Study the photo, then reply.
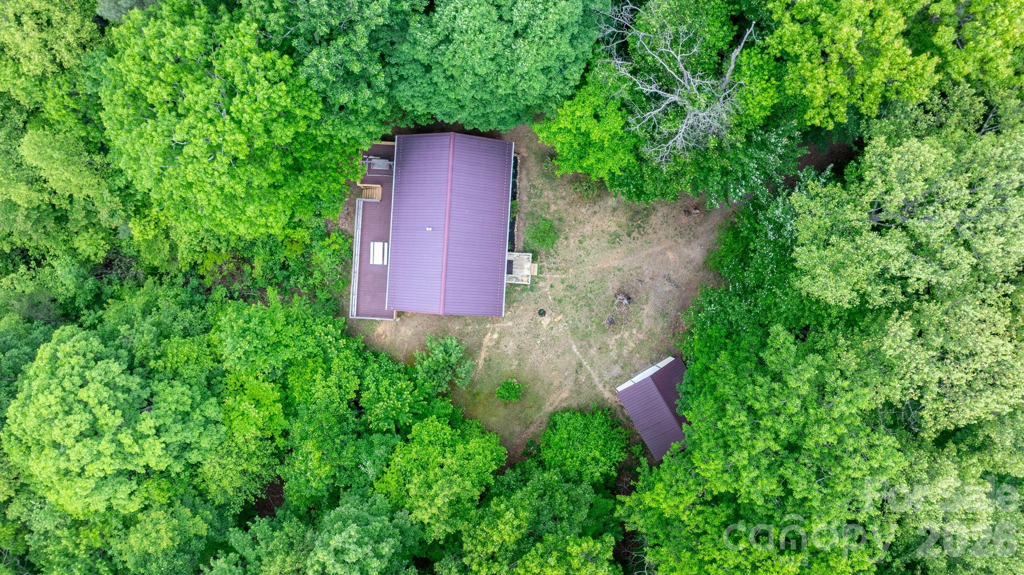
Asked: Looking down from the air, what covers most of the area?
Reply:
trees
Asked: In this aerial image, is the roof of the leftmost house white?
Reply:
No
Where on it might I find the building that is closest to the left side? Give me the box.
[384,130,516,317]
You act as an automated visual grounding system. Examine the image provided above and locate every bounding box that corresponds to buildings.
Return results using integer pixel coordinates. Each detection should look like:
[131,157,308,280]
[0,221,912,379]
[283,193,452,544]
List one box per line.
[384,130,516,317]
[615,356,708,462]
